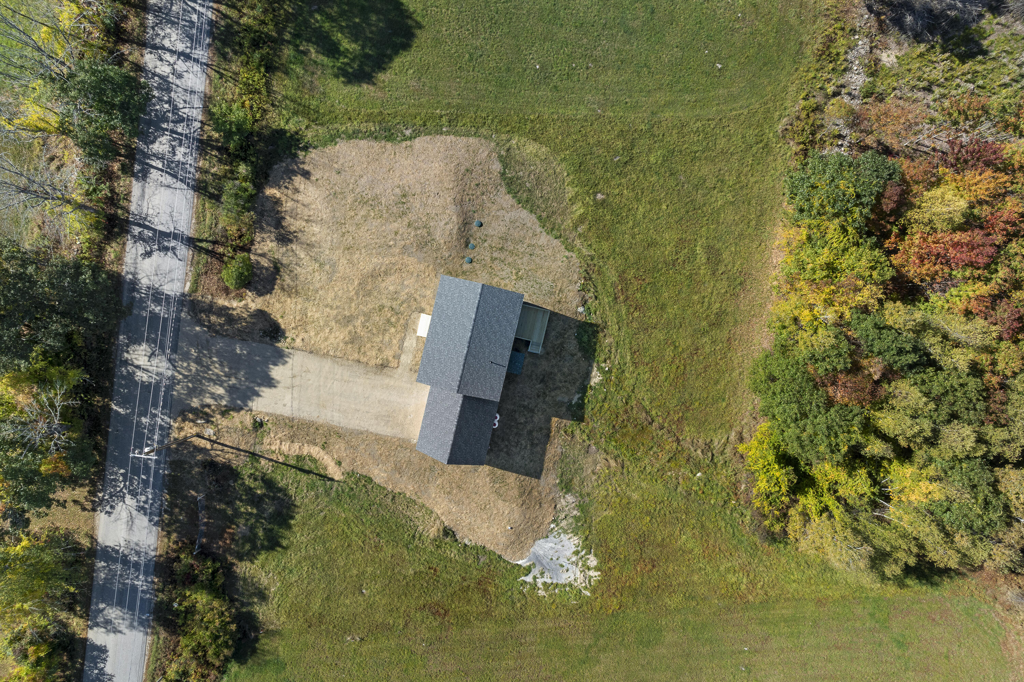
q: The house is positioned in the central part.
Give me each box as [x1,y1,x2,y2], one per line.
[416,275,550,465]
